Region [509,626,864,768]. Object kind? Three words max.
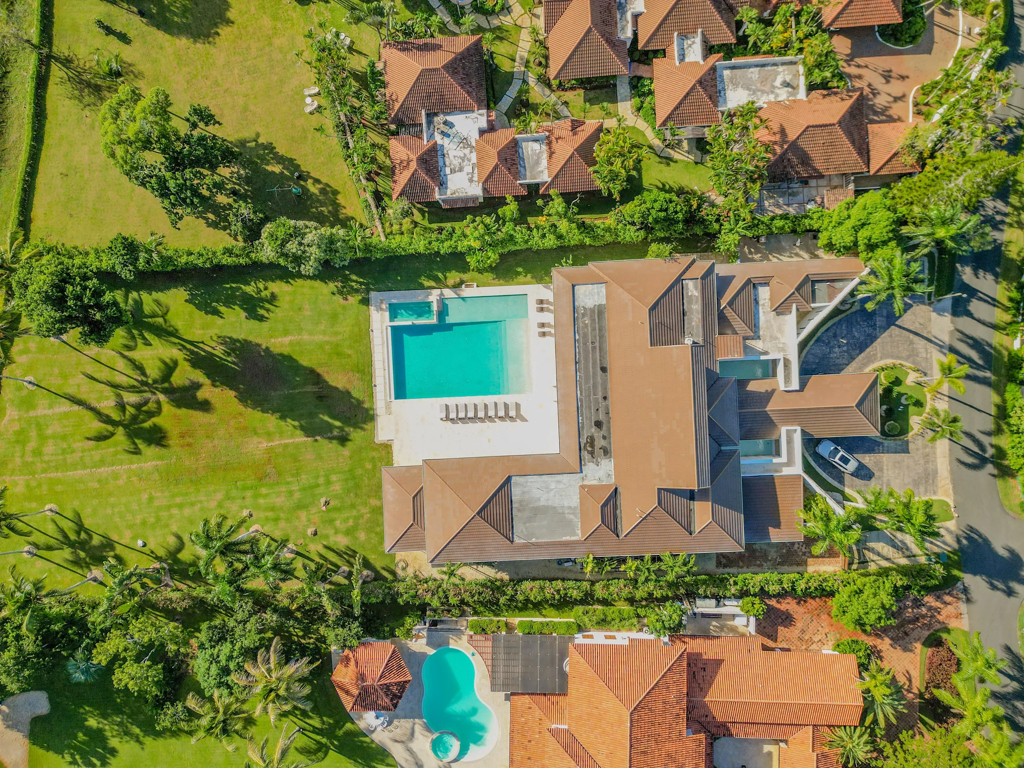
house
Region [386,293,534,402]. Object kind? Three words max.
swimming pool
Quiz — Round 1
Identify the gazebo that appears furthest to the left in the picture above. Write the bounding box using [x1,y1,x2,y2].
[330,638,414,713]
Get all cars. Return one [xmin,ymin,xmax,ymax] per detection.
[810,438,863,478]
